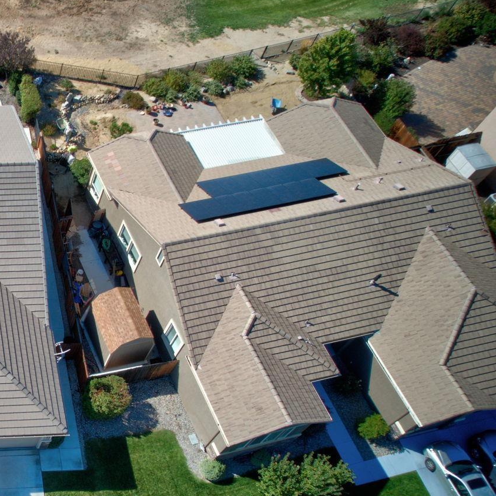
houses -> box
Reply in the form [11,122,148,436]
[0,105,82,457]
[86,92,496,458]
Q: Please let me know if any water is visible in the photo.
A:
No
